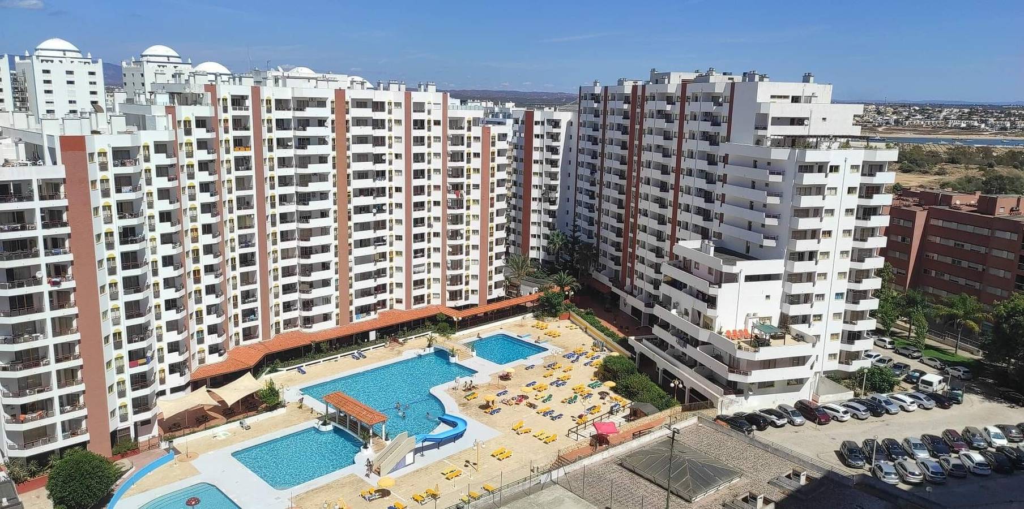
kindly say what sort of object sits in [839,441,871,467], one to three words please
car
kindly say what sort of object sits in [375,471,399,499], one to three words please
umbrella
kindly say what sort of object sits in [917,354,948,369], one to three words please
car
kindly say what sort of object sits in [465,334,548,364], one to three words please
swimming pool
